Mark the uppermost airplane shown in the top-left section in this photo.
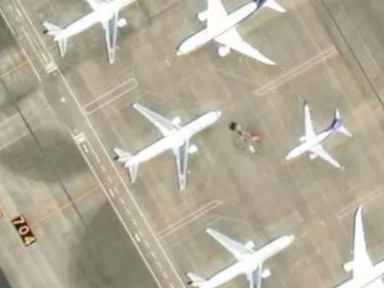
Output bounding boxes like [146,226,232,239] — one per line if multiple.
[45,0,135,61]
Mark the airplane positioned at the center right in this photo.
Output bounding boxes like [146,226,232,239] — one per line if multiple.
[286,100,353,166]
